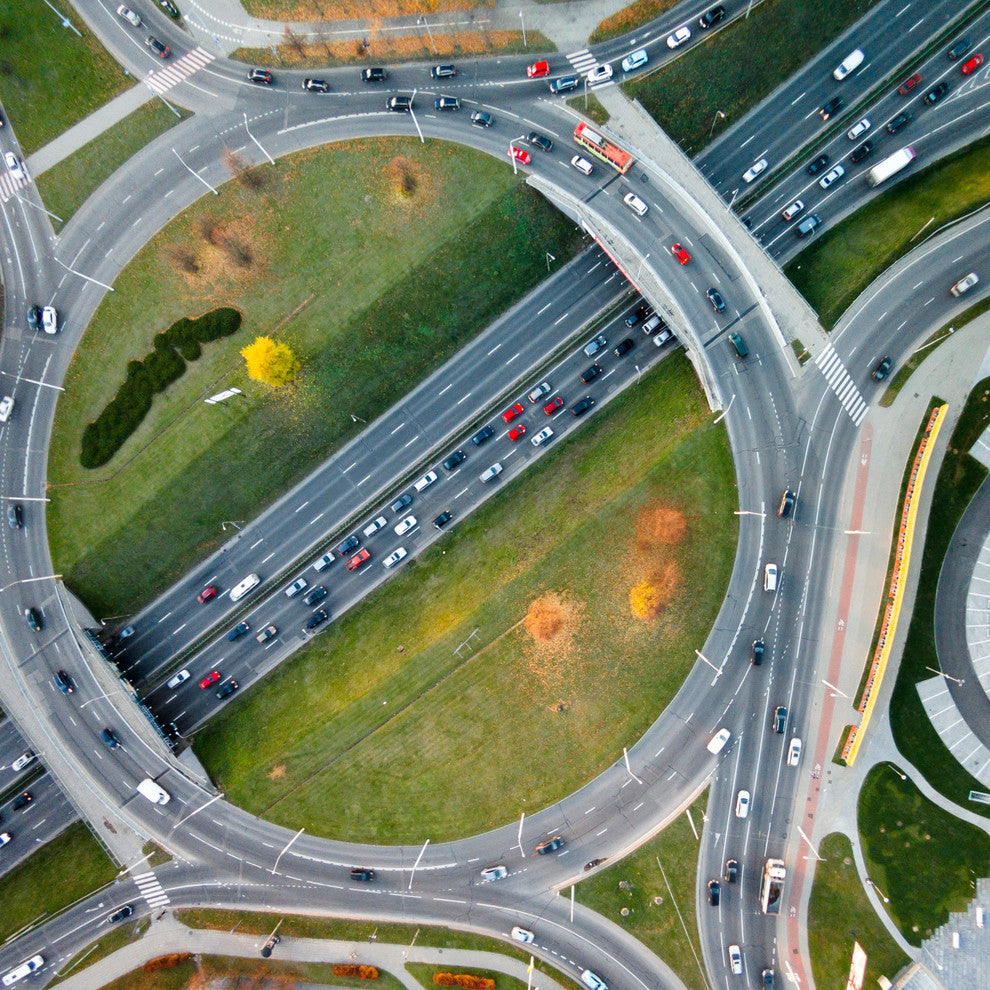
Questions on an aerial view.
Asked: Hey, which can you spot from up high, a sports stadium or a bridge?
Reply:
bridge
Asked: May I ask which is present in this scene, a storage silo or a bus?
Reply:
bus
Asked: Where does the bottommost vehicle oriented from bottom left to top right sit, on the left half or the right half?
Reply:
left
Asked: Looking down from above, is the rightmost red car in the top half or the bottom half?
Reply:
top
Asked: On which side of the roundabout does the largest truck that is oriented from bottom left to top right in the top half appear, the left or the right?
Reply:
on the right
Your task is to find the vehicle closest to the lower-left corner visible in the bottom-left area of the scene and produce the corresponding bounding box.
[0,951,47,989]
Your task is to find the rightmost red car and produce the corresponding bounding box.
[959,52,985,75]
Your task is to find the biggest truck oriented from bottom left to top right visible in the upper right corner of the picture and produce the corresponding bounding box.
[865,148,916,189]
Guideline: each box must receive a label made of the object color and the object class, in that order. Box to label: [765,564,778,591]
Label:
white vehicle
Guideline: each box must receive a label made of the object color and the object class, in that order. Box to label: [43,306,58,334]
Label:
white car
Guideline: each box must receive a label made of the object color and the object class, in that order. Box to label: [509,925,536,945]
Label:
white car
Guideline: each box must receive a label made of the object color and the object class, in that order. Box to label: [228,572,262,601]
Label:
white van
